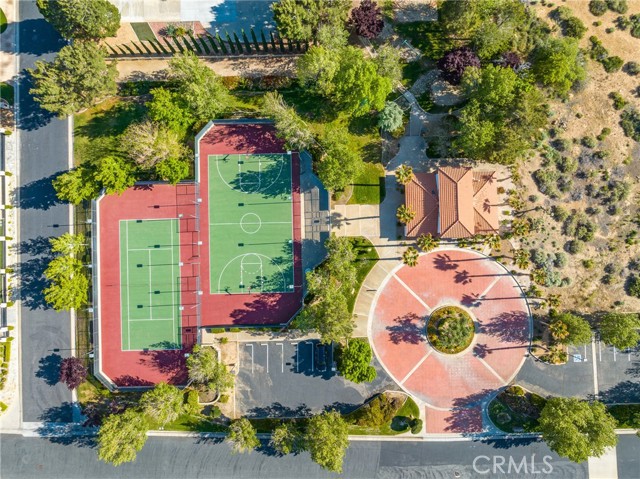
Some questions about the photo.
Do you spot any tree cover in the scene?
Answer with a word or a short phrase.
Yes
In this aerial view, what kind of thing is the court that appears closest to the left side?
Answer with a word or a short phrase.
tennis court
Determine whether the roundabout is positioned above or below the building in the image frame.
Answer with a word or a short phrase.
below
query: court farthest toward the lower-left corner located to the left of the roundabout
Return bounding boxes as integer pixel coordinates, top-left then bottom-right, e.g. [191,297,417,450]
[98,181,201,388]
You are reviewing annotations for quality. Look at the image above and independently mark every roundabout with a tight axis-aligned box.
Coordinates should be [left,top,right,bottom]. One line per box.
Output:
[368,247,532,411]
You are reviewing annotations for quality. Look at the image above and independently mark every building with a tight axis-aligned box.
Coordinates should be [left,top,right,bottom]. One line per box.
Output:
[404,166,501,238]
